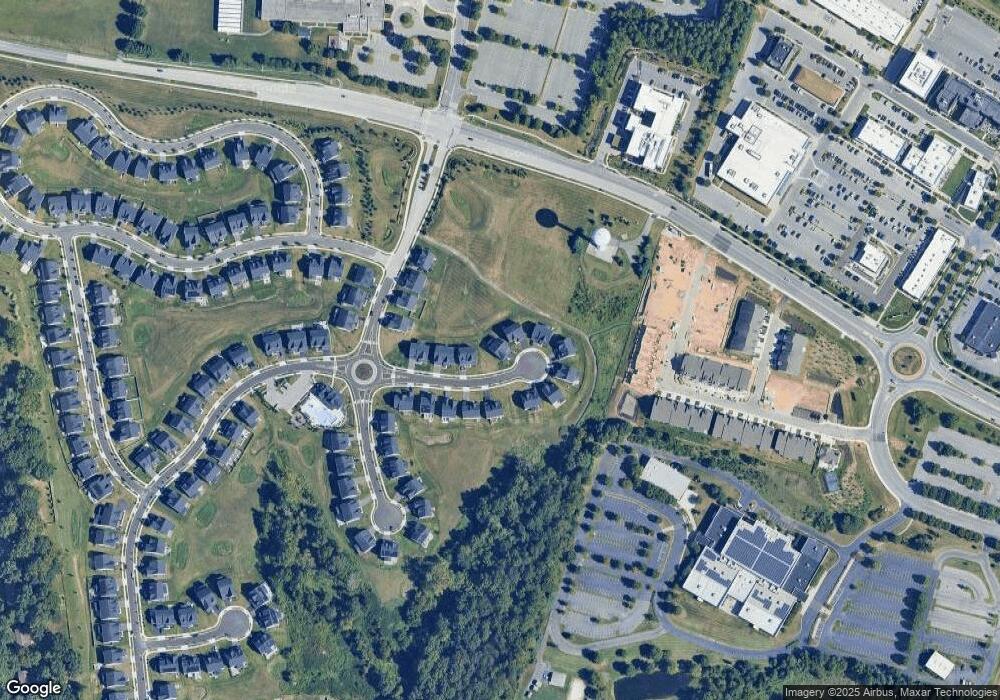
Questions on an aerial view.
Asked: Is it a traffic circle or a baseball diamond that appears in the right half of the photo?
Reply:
traffic circle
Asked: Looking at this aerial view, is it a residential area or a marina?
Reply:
residential area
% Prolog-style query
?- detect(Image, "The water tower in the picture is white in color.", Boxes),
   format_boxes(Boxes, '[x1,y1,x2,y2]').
[592,228,610,253]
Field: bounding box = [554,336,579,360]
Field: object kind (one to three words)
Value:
house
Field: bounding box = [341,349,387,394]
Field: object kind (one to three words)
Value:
roundabout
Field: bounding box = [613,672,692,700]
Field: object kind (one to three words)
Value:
pond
